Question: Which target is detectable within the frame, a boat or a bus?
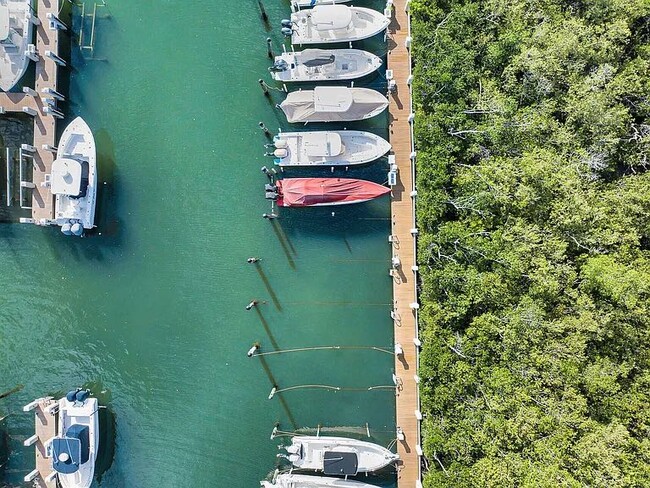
boat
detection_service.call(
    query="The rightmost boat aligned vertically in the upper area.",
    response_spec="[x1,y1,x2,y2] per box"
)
[40,117,101,237]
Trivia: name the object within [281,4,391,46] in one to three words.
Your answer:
boat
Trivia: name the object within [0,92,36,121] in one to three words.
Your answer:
pier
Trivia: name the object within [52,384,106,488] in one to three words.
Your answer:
boat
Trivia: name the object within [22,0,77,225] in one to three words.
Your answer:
pier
